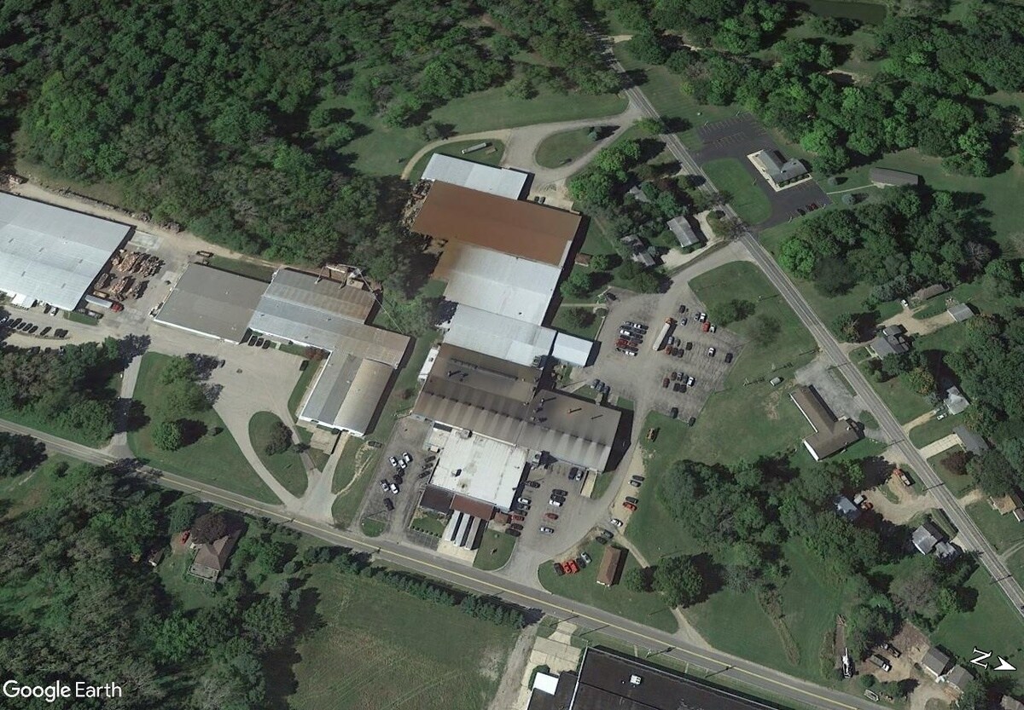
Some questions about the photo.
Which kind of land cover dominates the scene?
trees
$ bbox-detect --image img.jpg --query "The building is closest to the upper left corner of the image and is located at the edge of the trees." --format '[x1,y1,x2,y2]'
[0,193,131,311]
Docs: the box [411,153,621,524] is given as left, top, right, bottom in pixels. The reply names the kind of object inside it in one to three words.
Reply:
building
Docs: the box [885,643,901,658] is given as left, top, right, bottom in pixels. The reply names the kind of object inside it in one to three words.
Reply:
vehicle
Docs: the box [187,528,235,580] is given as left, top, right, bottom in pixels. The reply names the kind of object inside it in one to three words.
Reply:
house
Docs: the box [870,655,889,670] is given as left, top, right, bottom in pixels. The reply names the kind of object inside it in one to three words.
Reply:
vehicle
